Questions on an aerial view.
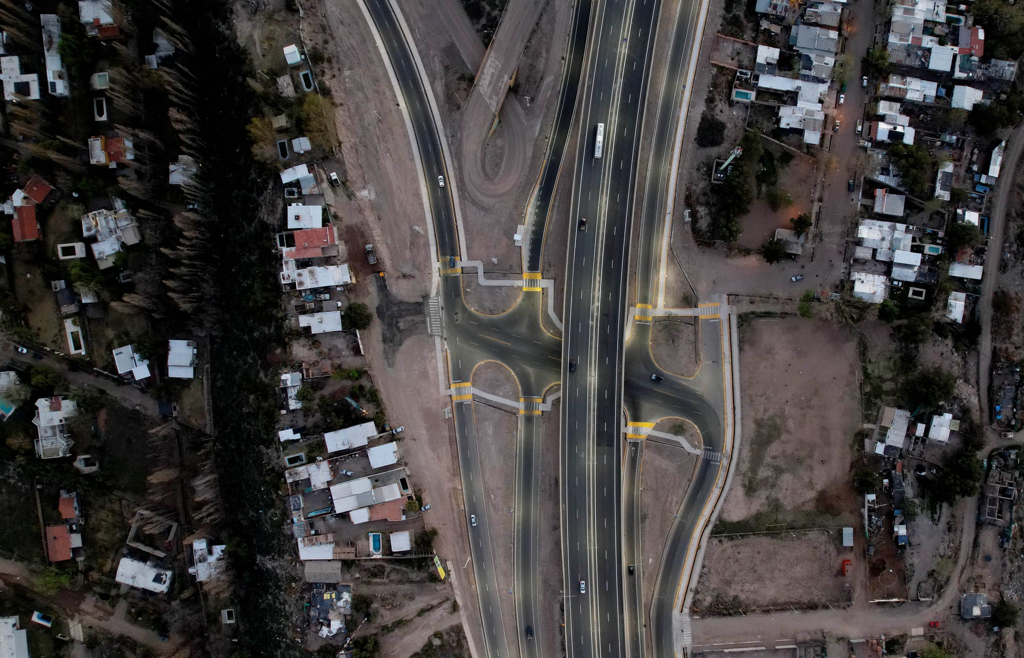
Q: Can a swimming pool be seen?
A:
Yes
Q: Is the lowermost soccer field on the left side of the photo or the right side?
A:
right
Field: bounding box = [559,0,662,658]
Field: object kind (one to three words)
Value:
overpass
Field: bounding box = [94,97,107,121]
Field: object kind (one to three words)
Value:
swimming pool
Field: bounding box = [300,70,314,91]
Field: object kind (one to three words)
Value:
swimming pool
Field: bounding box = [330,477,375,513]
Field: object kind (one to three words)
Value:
house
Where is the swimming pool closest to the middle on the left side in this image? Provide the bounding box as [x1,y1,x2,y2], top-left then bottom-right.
[397,477,413,496]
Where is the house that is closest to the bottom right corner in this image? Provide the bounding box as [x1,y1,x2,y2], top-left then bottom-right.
[956,592,992,618]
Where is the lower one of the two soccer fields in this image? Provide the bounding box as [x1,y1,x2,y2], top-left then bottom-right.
[696,530,848,612]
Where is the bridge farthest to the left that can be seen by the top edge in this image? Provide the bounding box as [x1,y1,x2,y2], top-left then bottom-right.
[464,0,529,142]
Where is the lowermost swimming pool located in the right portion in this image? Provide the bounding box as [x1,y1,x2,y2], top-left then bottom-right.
[908,287,926,300]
